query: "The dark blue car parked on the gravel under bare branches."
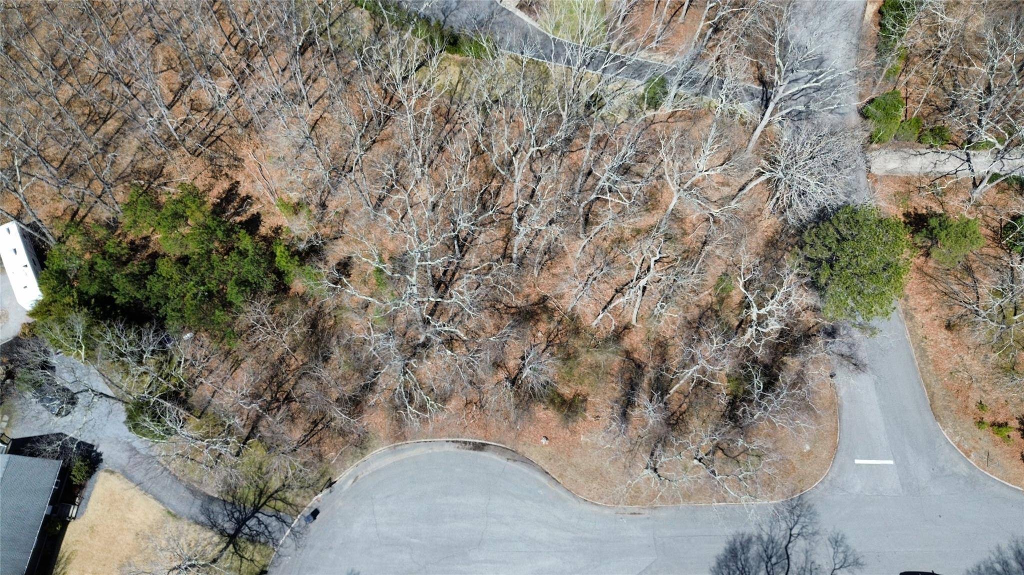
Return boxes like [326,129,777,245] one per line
[31,383,74,419]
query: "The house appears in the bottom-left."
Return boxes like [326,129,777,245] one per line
[0,436,85,575]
